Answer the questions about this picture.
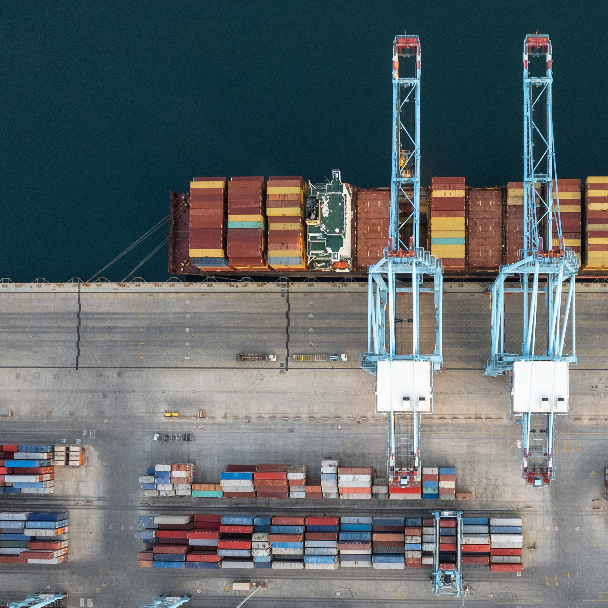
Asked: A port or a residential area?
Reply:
port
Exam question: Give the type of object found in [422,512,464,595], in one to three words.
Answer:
crane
